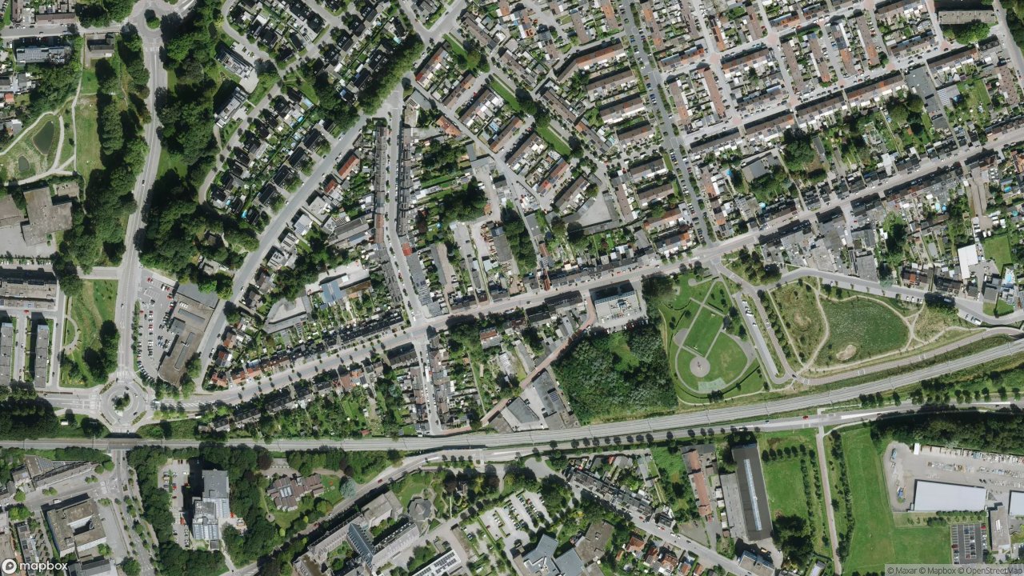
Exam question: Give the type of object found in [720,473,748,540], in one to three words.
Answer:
shed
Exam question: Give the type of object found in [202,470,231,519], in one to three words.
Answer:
building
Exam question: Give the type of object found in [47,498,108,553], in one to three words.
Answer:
building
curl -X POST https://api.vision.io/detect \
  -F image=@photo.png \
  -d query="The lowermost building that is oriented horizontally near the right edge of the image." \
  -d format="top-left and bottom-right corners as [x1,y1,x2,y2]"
[914,481,986,511]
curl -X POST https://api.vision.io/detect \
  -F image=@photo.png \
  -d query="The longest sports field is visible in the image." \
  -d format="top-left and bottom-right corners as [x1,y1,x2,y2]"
[842,429,894,573]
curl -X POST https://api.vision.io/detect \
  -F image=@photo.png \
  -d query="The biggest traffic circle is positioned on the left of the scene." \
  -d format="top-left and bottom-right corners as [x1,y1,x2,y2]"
[95,377,148,431]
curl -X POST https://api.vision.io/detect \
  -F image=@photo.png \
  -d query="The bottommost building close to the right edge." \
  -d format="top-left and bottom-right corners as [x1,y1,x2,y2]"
[990,506,1010,550]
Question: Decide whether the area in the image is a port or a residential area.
residential area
